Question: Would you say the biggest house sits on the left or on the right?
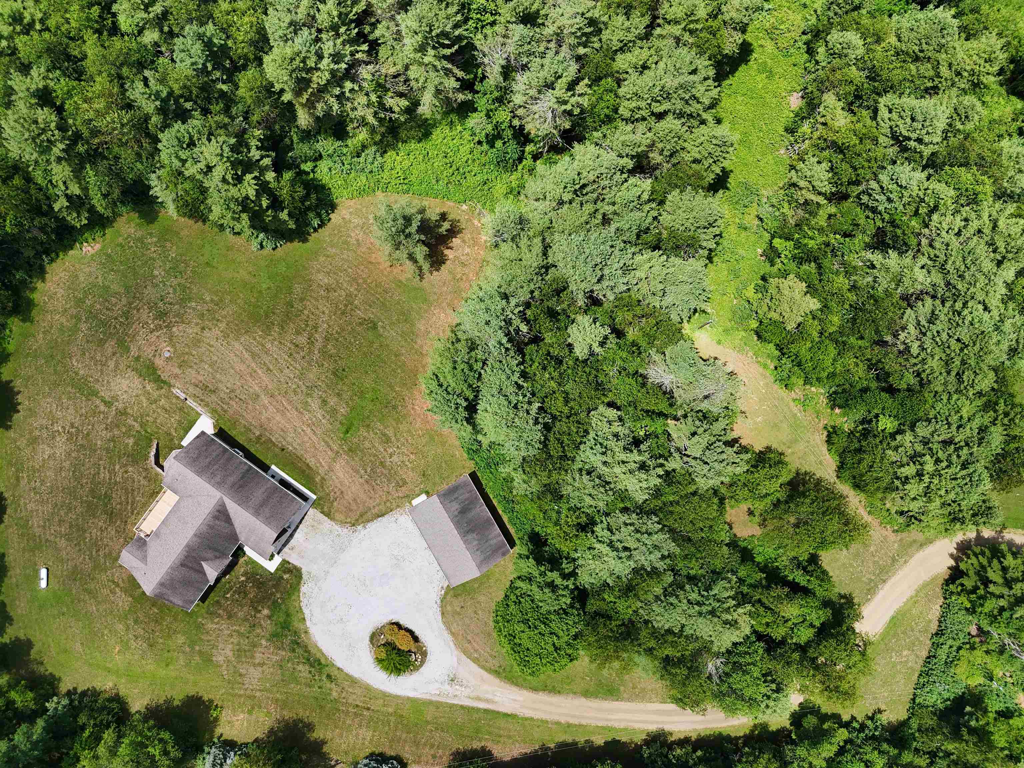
left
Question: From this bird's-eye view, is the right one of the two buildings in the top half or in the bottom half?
bottom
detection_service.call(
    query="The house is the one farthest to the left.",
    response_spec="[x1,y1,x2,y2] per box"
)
[118,428,306,613]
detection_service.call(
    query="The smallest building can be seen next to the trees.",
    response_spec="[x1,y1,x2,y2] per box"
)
[407,474,512,588]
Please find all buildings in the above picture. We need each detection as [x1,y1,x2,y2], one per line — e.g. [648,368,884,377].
[118,428,306,613]
[407,474,512,588]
